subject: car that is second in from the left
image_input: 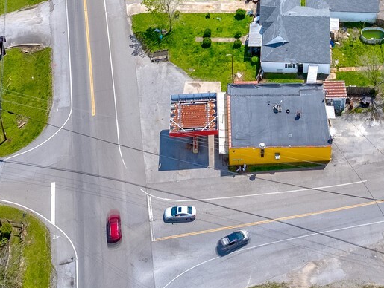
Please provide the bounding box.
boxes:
[163,204,195,221]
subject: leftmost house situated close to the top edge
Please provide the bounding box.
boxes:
[248,0,340,84]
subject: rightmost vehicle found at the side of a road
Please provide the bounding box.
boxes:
[216,230,251,252]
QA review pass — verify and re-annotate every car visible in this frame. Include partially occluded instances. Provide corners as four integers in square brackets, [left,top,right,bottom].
[216,230,251,252]
[163,204,195,221]
[105,210,120,244]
